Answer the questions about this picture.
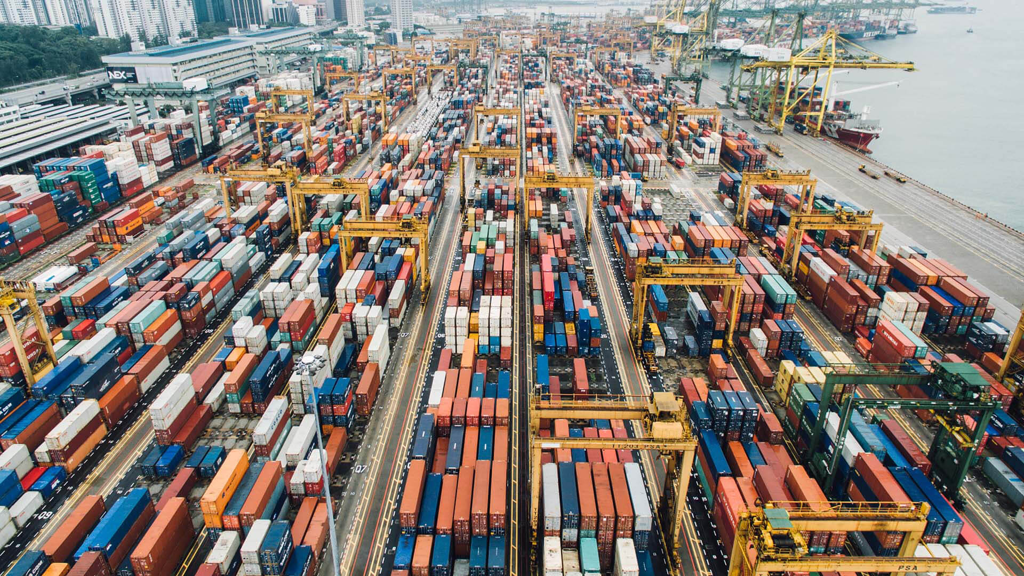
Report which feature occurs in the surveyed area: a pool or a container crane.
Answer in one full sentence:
The image shows a container crane.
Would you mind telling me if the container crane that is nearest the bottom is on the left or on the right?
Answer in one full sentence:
The container crane that is nearest the bottom appears in the right half of the scene.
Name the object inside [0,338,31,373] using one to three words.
shipping container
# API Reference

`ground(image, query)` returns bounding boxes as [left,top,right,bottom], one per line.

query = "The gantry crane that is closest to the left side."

[0,272,67,372]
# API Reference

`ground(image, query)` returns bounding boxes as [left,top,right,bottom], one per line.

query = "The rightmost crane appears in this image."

[998,319,1024,424]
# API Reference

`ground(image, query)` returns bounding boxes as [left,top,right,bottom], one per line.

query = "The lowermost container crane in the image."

[715,498,958,576]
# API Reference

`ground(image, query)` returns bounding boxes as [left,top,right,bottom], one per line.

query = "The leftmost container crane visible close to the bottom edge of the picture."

[526,389,692,553]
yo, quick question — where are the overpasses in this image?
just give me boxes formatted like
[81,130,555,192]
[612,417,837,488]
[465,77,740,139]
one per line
[0,56,107,107]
